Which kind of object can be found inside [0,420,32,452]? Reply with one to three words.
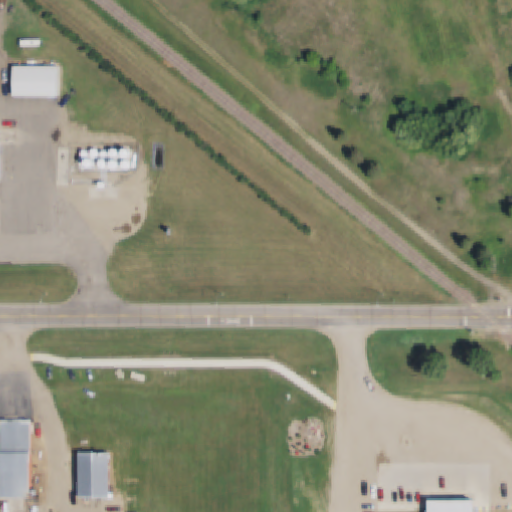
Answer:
building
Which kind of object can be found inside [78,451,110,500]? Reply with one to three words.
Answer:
shed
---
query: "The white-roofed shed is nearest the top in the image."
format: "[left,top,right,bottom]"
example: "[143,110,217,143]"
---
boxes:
[10,65,62,98]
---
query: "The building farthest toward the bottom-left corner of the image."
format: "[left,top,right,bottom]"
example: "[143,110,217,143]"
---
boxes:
[0,450,31,498]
